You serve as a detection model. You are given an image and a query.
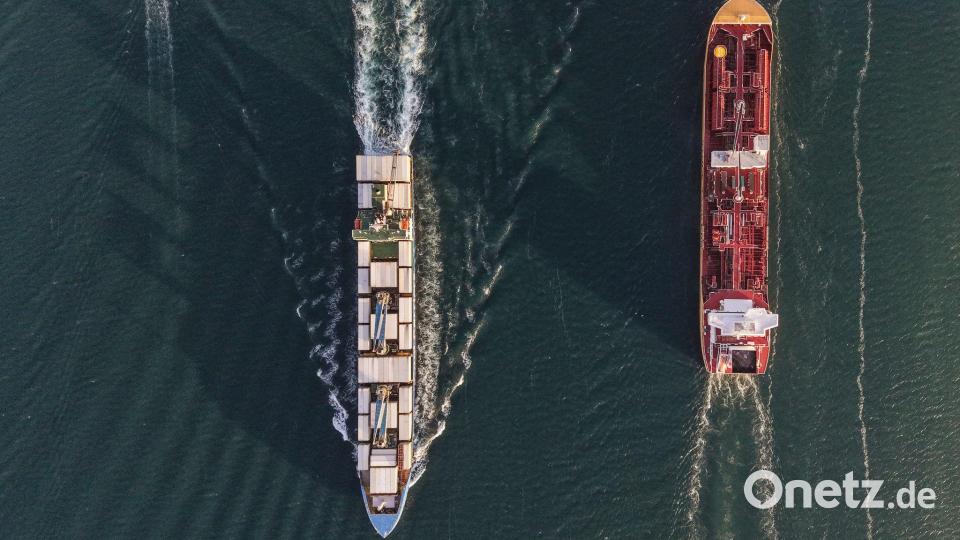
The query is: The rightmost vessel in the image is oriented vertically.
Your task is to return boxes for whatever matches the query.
[699,0,778,373]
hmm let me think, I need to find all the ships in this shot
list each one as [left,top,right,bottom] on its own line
[352,148,415,536]
[699,0,778,373]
